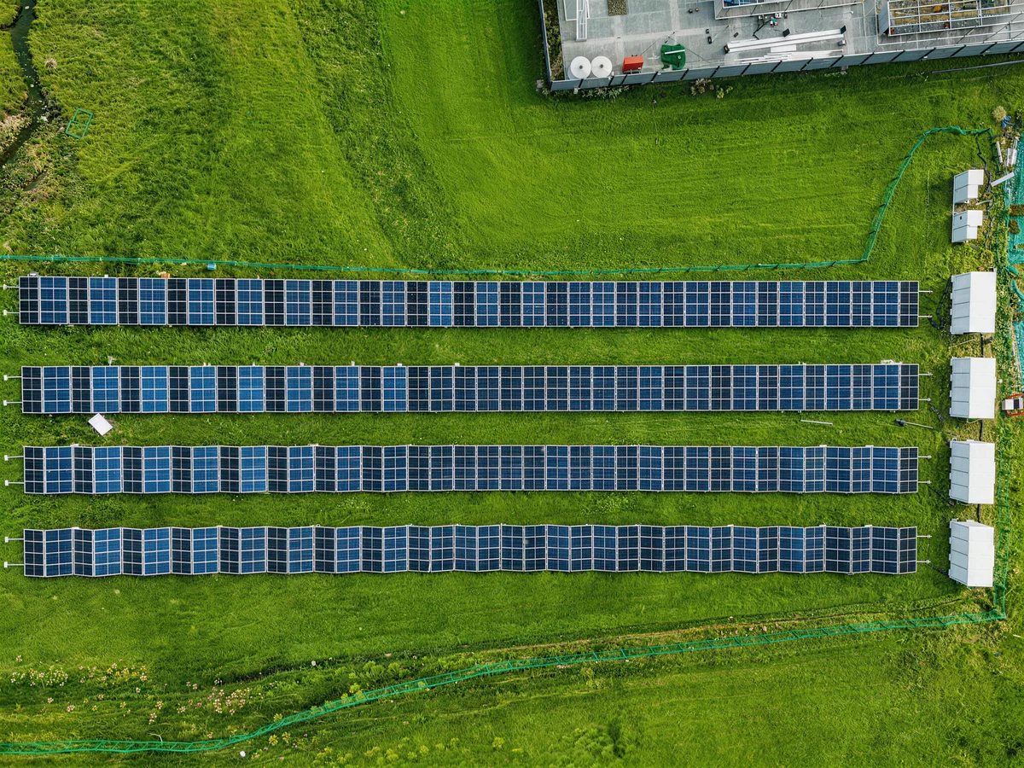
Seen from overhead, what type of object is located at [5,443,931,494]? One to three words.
solar array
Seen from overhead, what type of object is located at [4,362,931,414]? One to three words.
solar array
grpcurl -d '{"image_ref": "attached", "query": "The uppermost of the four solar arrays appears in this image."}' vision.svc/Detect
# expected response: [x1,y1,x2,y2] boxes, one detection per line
[3,274,931,329]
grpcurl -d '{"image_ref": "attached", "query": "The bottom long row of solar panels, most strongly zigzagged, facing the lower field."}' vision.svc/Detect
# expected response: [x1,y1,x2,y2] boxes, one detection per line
[5,522,931,578]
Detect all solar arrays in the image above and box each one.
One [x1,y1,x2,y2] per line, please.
[5,522,931,578]
[5,443,931,494]
[4,362,931,414]
[3,274,931,329]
